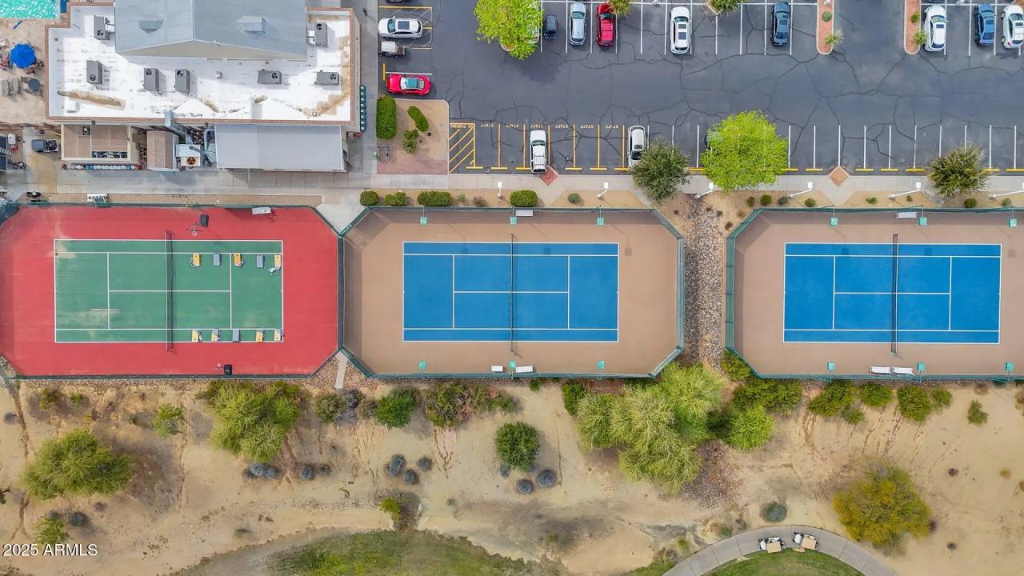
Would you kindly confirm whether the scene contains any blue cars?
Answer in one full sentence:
Yes, I can see a blue car in this picture.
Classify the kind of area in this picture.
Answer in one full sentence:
The area seen from above is a sports ground.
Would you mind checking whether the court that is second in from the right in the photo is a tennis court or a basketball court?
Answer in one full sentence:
The court that is second in from the right is a tennis court.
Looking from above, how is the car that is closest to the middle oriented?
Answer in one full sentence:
Seen from above, the car that is closest to the middle lies up and down.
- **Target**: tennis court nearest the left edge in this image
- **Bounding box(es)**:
[0,206,340,376]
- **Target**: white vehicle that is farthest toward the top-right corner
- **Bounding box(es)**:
[1000,6,1024,50]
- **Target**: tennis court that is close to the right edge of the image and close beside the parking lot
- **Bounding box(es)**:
[726,211,1024,376]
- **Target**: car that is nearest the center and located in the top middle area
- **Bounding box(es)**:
[529,131,549,174]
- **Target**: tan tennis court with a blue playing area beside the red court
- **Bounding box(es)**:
[344,210,678,374]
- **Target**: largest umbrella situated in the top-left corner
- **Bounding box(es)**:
[11,45,37,70]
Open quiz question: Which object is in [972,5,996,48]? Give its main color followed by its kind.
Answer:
blue car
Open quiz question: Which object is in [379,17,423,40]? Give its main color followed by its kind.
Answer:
white car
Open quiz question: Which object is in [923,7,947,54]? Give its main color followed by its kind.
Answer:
white car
